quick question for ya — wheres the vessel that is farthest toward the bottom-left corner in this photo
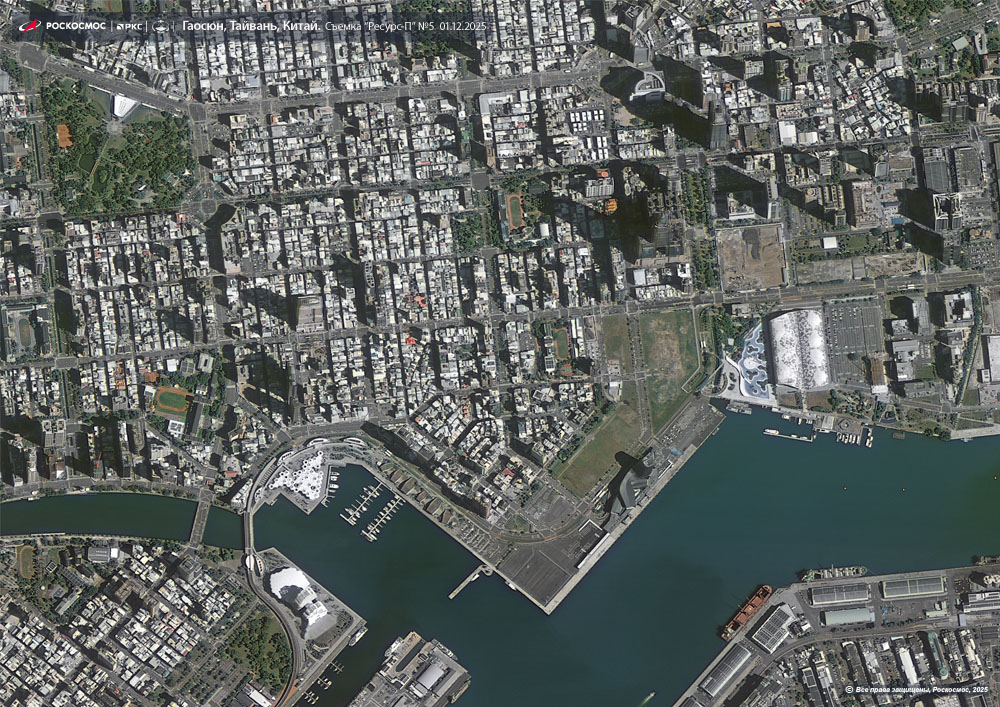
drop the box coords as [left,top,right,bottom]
[351,626,368,645]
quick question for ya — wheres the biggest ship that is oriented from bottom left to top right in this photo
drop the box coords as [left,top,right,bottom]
[721,587,771,639]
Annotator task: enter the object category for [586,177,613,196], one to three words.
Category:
building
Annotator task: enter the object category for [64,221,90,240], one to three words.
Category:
building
